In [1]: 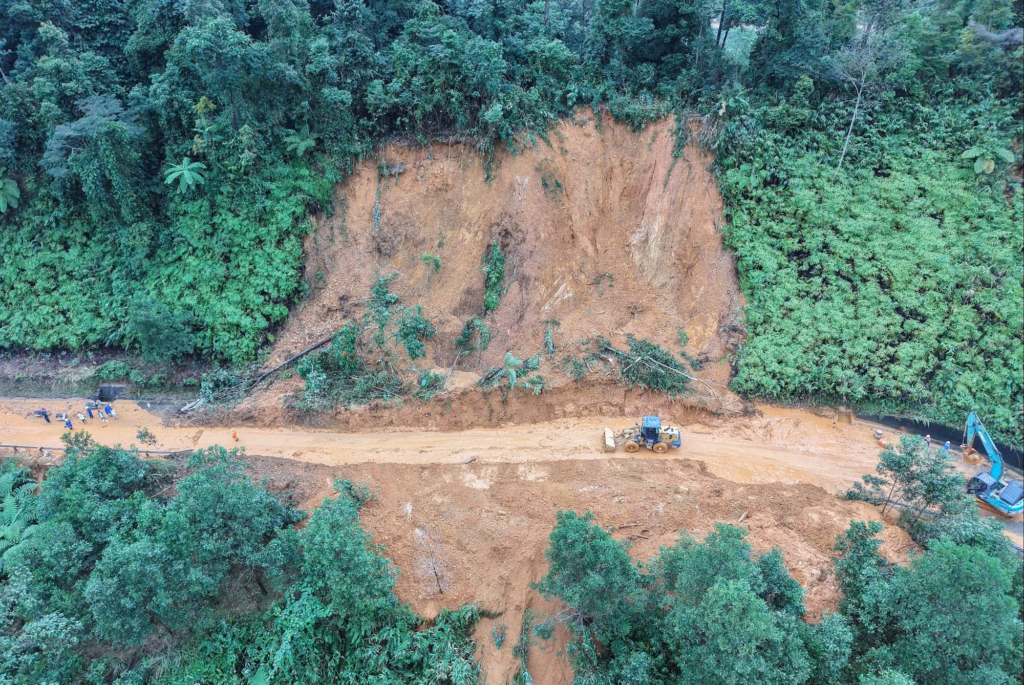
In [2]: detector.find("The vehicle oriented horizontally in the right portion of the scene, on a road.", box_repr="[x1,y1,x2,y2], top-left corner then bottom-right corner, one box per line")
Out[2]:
[603,417,683,456]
